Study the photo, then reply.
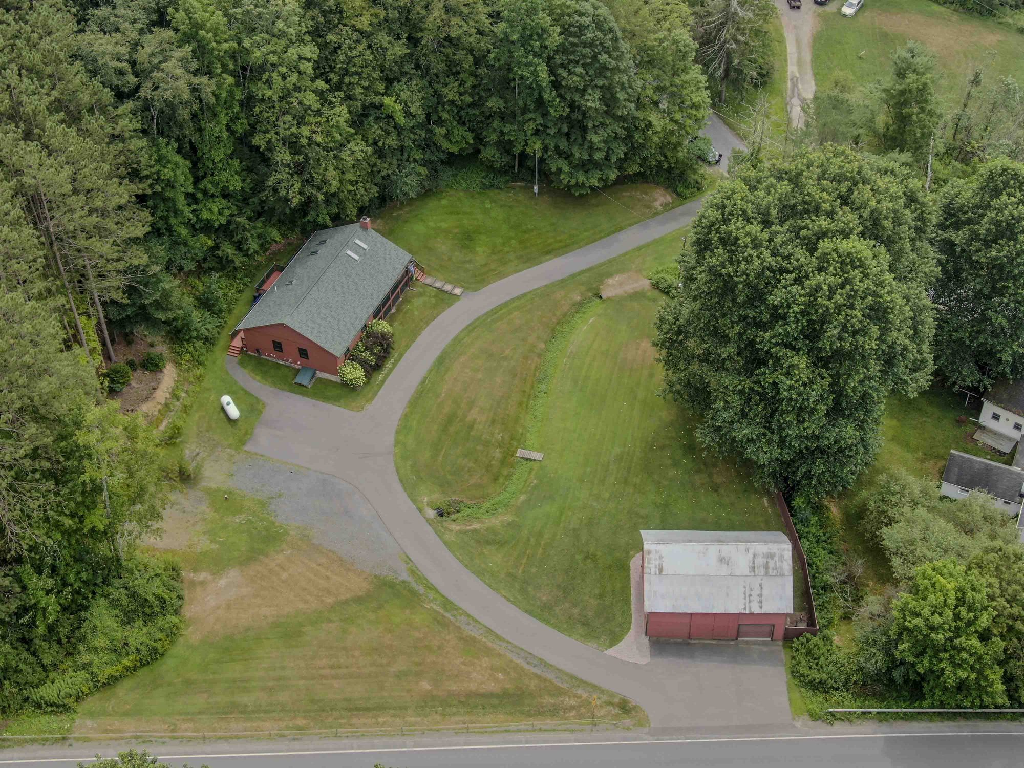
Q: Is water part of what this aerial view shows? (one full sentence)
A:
No, the scene doesn't show any water.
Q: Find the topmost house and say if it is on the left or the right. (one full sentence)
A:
You can find the topmost house on the left side of the picture.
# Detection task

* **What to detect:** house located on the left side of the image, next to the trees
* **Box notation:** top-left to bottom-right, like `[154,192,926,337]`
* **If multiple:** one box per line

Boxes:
[225,214,432,378]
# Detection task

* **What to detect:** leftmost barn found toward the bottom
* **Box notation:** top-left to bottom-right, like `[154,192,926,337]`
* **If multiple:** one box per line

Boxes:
[638,530,794,641]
